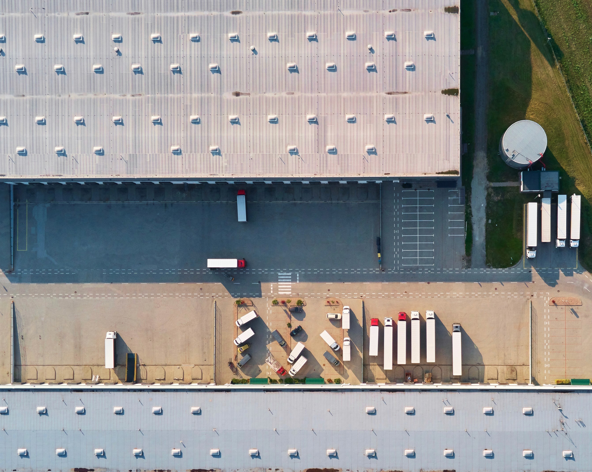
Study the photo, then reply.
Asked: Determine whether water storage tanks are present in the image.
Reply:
Yes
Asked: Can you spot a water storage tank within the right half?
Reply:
Yes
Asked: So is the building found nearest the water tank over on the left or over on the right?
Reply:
right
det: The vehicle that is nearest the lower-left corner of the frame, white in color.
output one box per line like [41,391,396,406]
[105,330,118,368]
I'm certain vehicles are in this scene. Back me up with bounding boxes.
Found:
[526,202,537,258]
[342,305,350,329]
[289,355,307,375]
[237,188,248,222]
[383,316,393,369]
[324,351,340,366]
[410,310,420,363]
[555,195,566,248]
[234,327,255,346]
[237,353,252,367]
[343,338,351,362]
[426,310,435,363]
[327,313,342,319]
[236,311,258,327]
[396,311,407,364]
[207,259,247,268]
[288,342,305,364]
[272,329,287,346]
[238,343,250,353]
[105,330,118,368]
[369,317,378,356]
[451,322,461,376]
[265,356,287,377]
[290,325,303,336]
[319,330,340,351]
[568,195,580,249]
